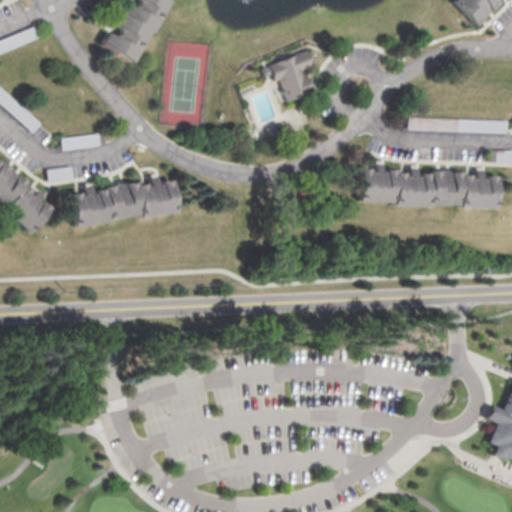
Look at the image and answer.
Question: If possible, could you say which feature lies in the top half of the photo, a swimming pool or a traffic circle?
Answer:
swimming pool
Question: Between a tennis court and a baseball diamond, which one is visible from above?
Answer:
tennis court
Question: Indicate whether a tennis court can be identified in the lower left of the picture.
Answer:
No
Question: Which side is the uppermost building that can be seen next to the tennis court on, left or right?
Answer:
left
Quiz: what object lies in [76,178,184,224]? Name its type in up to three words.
building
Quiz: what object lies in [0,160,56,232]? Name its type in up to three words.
building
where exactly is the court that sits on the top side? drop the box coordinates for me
[161,42,208,127]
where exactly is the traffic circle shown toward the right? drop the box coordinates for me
[432,378,469,421]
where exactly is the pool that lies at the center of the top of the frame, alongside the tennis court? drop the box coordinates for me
[240,73,309,140]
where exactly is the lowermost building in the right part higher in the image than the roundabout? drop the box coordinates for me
[362,168,506,210]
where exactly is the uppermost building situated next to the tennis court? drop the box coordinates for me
[108,0,174,67]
